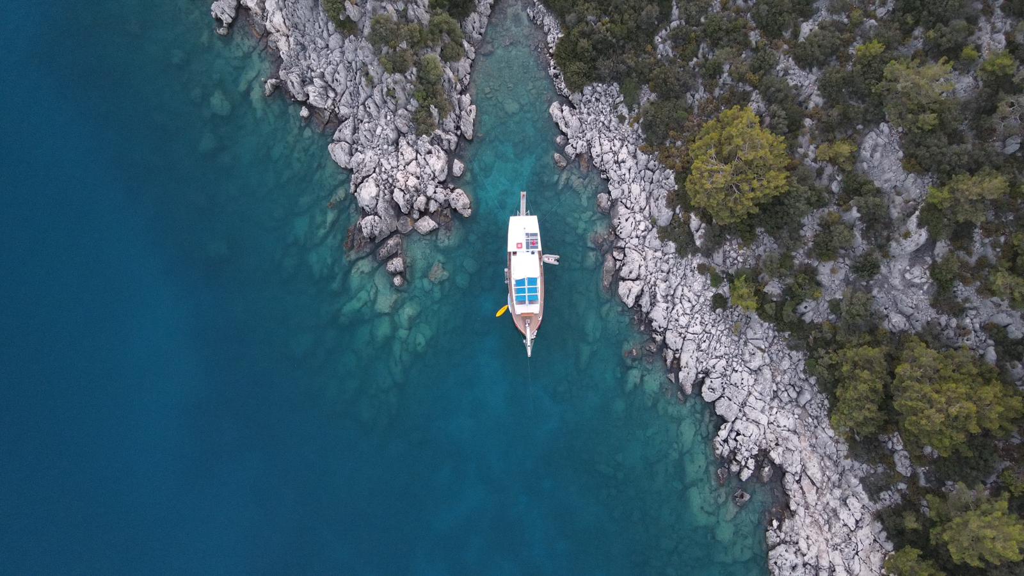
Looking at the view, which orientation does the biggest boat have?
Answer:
vertically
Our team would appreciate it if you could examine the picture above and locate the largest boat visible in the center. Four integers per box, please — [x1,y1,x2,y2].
[505,191,544,358]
